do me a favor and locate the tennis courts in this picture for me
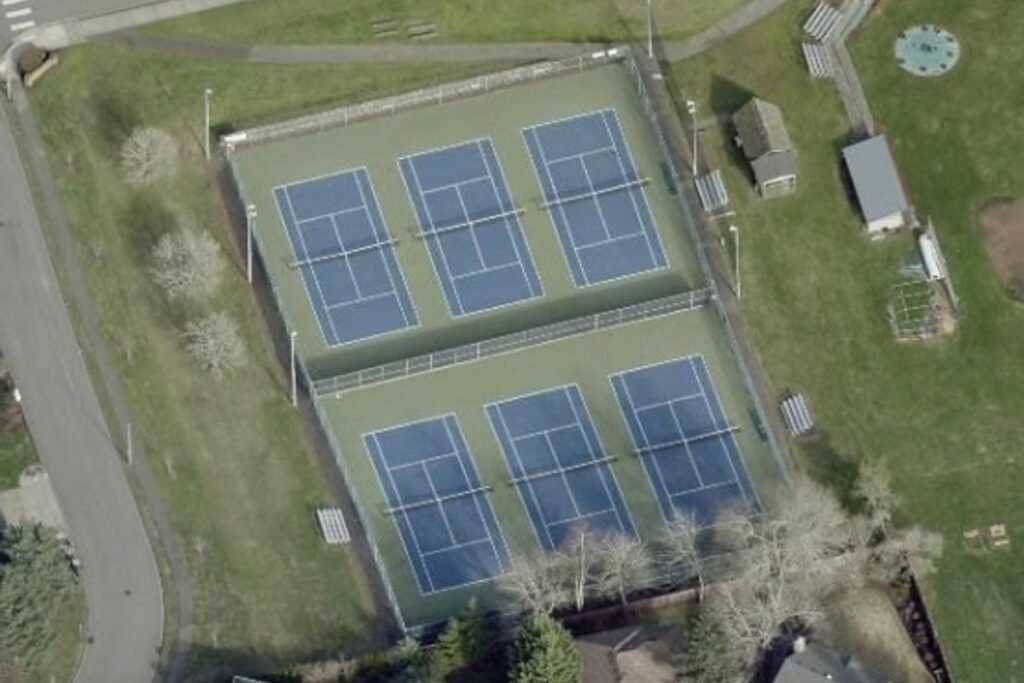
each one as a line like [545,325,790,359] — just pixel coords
[484,383,636,568]
[520,108,671,287]
[396,138,546,317]
[608,354,762,538]
[362,412,513,597]
[273,167,421,347]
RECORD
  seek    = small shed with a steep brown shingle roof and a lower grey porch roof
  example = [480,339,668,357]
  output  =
[732,97,800,202]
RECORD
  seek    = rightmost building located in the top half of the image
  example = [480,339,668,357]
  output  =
[838,135,911,244]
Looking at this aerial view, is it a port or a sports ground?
sports ground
